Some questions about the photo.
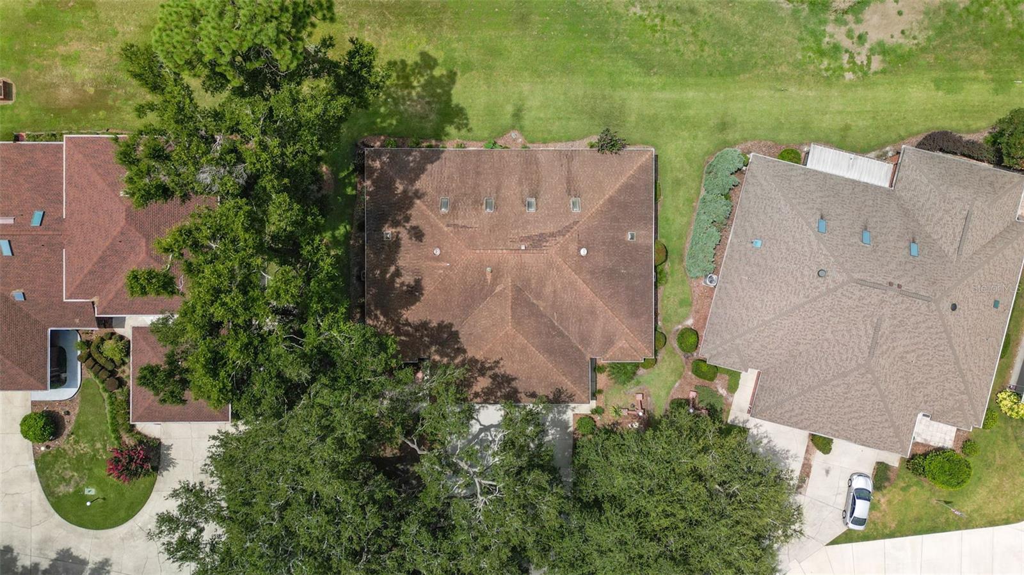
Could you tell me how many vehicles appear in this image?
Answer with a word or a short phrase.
1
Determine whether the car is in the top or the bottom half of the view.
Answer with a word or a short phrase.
bottom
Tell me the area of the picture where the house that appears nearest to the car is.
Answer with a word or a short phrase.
right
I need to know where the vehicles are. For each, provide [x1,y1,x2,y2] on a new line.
[842,473,876,532]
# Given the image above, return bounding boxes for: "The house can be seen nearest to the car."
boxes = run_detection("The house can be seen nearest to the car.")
[698,140,1024,458]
